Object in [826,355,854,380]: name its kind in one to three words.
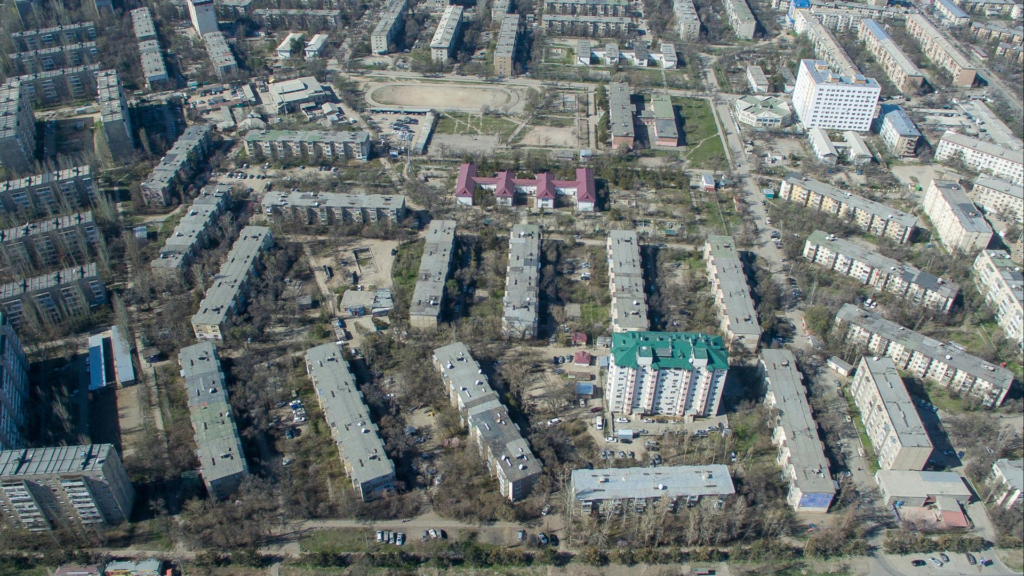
shed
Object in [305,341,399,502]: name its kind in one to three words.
building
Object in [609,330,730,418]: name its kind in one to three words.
building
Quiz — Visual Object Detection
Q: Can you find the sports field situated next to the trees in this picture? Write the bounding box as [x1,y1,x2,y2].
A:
[372,85,506,105]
